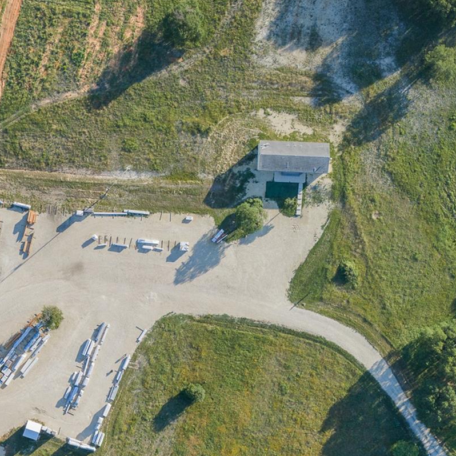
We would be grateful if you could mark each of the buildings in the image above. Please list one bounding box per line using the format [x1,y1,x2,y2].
[23,421,42,440]
[255,141,333,183]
